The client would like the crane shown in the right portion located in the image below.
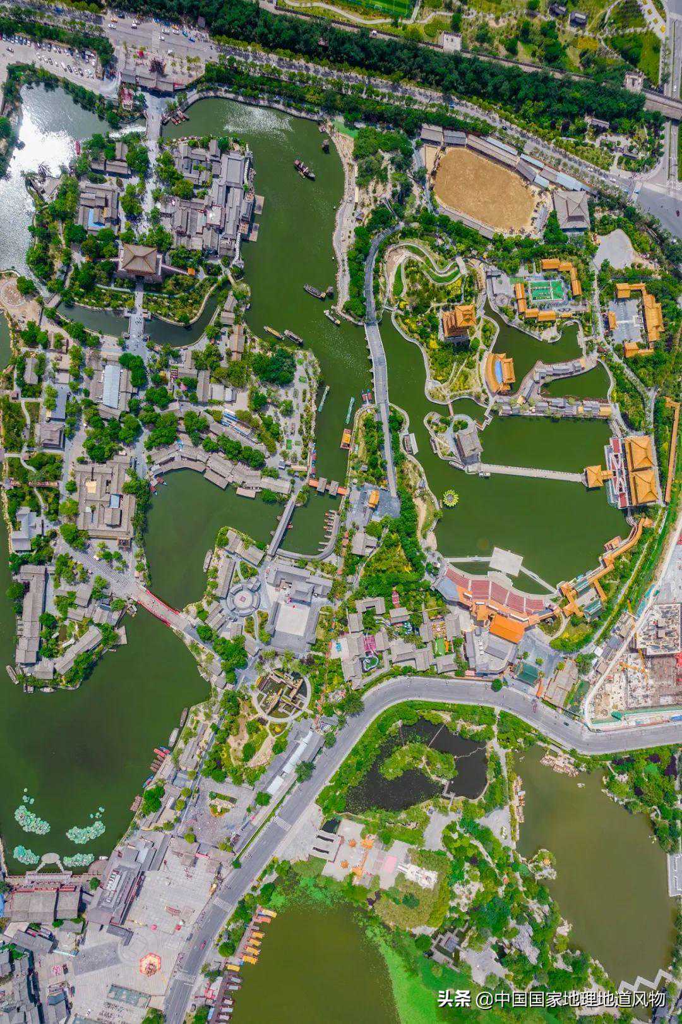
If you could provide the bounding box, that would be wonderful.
[617,596,649,689]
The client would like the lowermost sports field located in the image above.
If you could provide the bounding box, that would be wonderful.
[431,145,537,233]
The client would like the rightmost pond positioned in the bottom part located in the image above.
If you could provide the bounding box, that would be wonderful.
[344,718,487,814]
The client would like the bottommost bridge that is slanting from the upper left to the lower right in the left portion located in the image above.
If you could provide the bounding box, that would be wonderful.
[135,585,181,626]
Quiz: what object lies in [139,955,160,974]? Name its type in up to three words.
fountain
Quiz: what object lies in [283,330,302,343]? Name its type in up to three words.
boat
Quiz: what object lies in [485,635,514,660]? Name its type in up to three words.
house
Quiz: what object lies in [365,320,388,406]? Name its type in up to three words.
bridge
